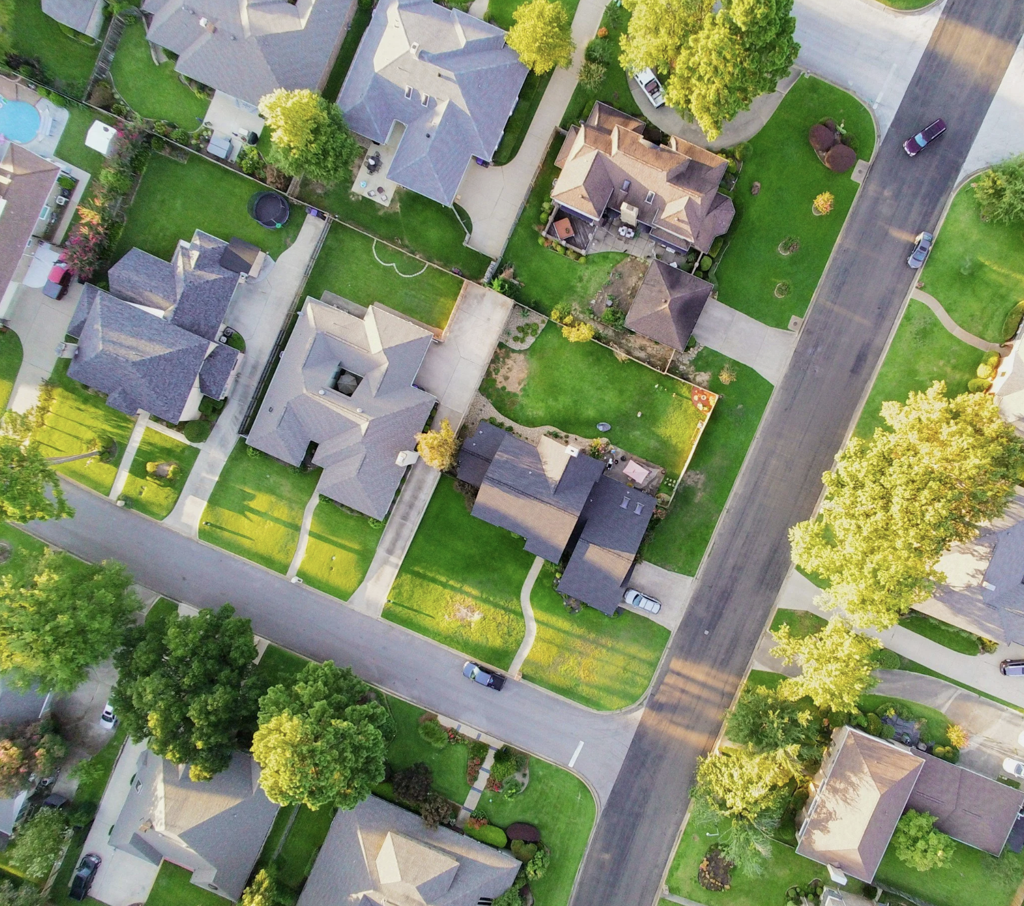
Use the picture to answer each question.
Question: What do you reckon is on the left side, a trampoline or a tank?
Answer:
trampoline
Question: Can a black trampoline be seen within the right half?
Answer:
No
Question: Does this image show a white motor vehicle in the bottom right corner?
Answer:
Yes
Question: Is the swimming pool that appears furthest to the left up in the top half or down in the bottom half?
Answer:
top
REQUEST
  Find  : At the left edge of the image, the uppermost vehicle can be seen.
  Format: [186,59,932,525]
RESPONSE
[47,261,76,301]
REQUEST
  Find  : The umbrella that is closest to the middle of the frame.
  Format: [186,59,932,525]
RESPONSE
[623,458,648,483]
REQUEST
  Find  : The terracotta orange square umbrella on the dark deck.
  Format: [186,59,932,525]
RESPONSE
[553,218,576,241]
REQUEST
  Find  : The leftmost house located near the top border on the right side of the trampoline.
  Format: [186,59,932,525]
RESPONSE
[334,0,532,210]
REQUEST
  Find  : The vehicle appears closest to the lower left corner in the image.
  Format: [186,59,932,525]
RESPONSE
[68,848,104,904]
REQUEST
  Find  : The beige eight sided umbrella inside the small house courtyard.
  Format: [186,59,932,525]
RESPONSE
[336,372,360,395]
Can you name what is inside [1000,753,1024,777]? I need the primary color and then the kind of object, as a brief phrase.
white car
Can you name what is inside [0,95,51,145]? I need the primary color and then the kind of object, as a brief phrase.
blue swimming pool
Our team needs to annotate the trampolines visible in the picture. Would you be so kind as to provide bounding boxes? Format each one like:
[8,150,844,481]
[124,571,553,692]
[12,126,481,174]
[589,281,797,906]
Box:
[243,182,290,232]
